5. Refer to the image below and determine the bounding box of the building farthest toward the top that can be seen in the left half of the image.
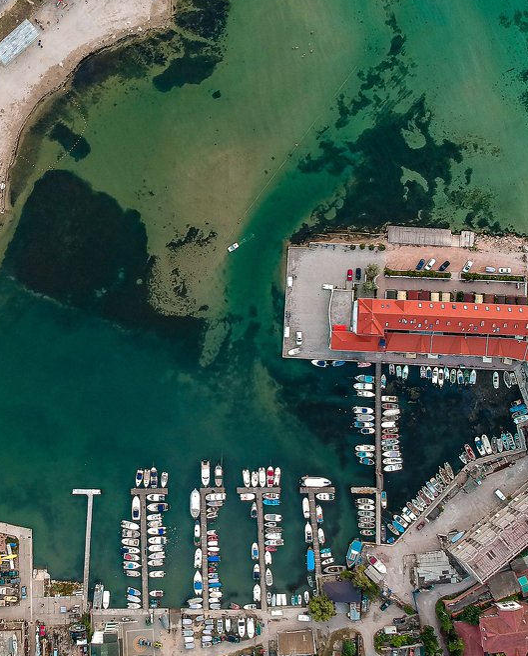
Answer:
[0,20,39,68]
